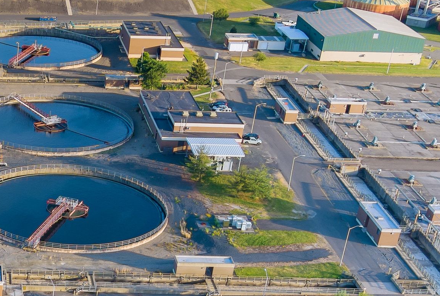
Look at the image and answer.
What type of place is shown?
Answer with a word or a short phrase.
industrial area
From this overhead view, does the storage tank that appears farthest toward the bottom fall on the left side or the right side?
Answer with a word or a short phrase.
left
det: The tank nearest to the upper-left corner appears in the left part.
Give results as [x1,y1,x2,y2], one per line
[0,27,103,72]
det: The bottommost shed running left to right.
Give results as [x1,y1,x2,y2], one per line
[173,252,236,276]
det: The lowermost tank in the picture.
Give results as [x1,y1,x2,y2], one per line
[0,164,167,258]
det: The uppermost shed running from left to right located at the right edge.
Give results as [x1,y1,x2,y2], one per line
[306,6,426,63]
